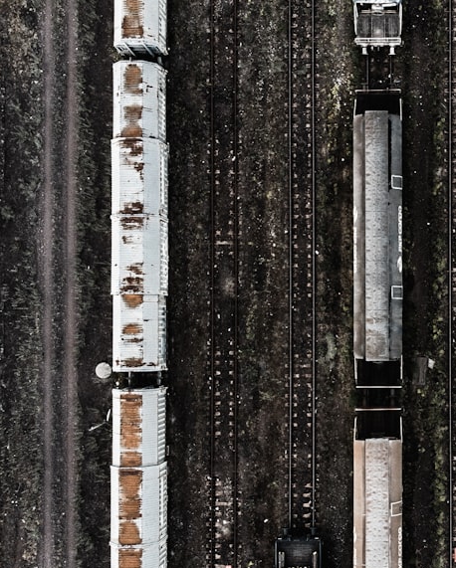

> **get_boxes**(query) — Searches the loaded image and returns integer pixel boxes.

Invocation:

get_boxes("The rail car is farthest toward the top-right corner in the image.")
[354,0,403,58]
